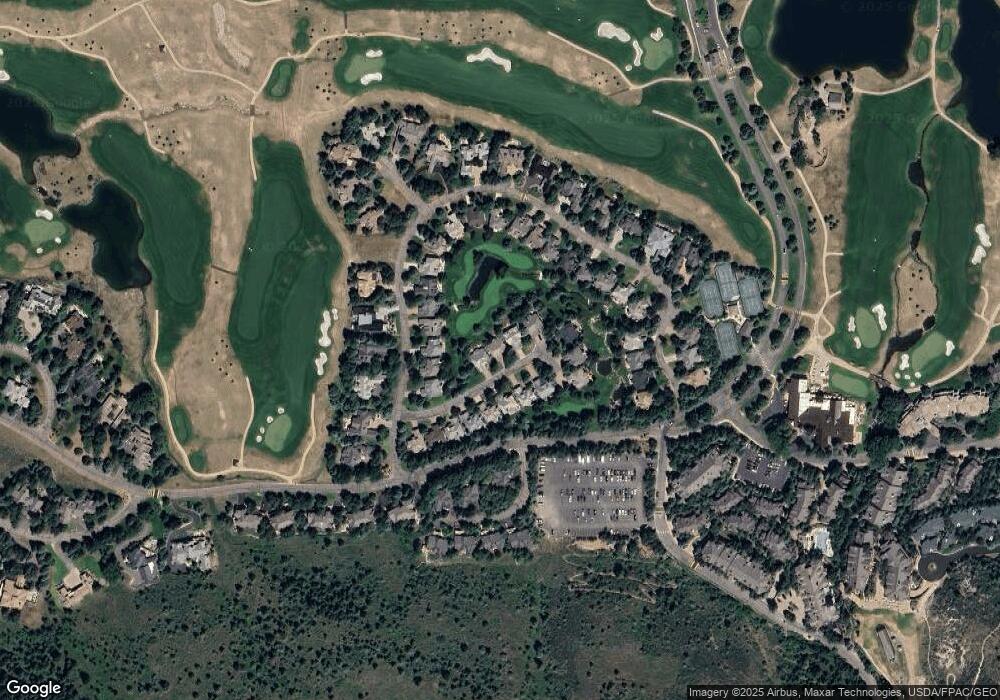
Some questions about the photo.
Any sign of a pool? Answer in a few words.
Yes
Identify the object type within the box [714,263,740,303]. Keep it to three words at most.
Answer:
tennis court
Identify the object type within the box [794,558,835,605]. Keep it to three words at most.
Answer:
building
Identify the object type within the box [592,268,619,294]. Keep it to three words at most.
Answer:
house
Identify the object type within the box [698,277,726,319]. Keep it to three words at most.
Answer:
tennis court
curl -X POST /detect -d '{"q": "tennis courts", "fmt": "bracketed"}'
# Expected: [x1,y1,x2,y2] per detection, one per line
[737,276,765,318]
[714,320,740,361]
[698,277,726,319]
[714,263,740,303]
